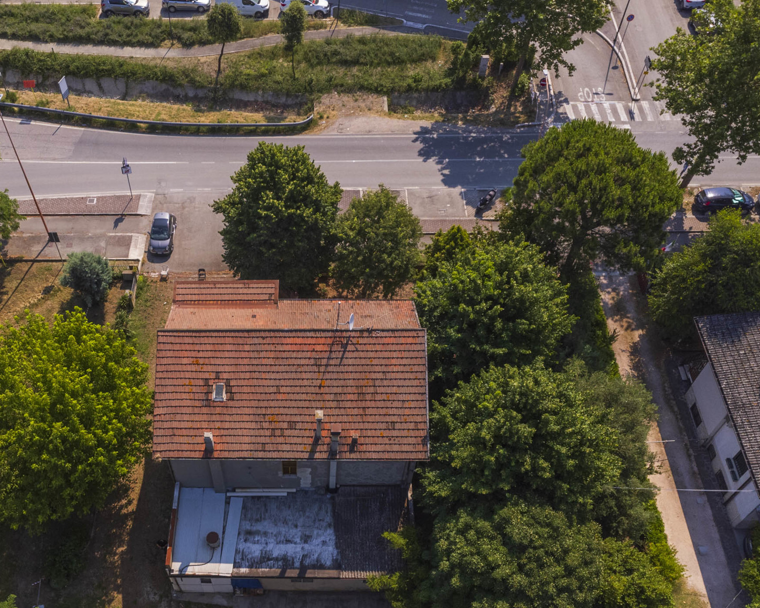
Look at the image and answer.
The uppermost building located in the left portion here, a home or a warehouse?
home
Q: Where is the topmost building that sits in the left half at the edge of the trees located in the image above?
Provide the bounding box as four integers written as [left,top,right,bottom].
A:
[154,276,429,517]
